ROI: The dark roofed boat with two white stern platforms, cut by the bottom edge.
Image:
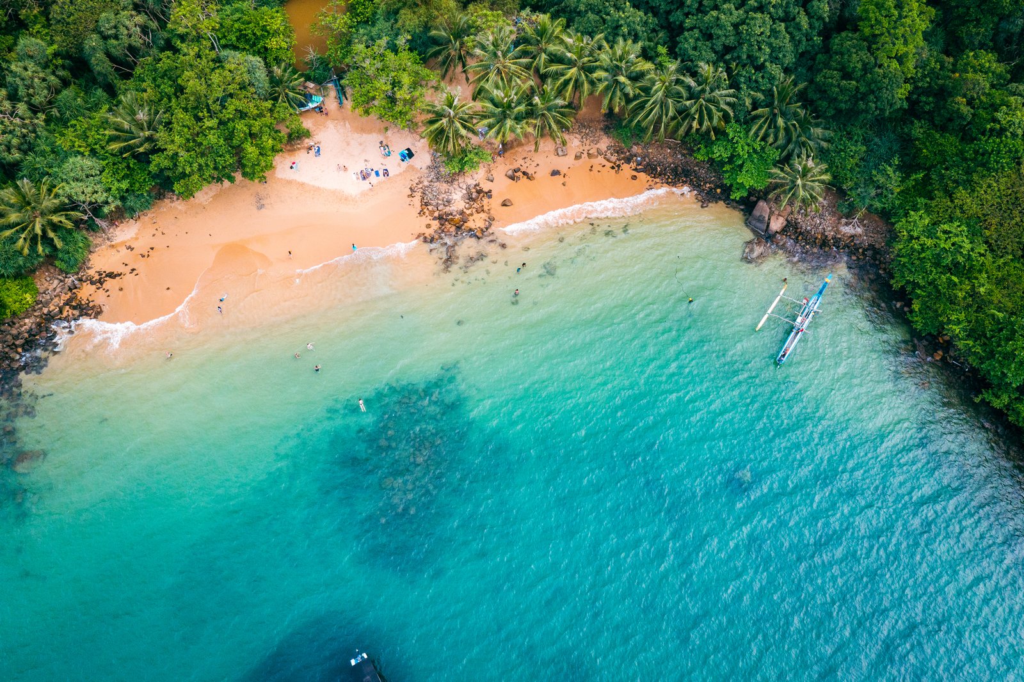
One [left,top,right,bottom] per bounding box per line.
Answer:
[346,650,380,682]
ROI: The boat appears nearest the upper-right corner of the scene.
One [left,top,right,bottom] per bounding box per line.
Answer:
[762,277,830,363]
